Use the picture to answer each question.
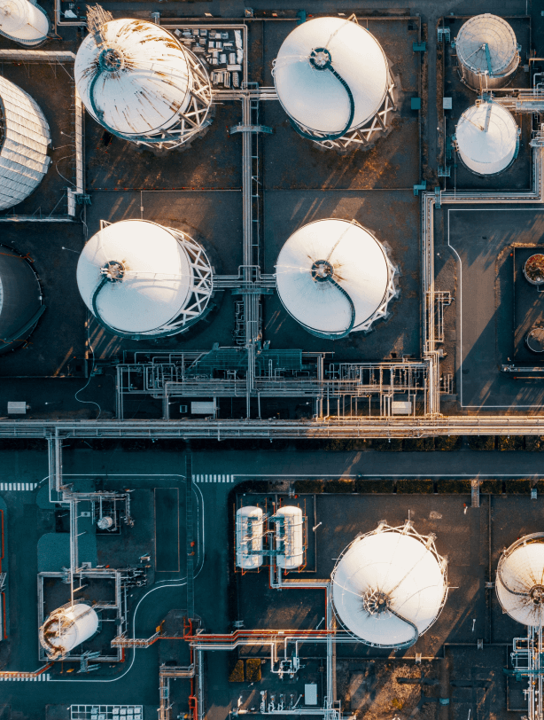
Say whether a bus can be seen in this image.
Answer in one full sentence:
No, the photo shows no bus.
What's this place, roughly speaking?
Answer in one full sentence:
What you see here is an industrial area.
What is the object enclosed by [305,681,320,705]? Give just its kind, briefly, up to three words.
building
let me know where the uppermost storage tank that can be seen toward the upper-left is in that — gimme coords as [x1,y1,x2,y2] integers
[0,0,53,51]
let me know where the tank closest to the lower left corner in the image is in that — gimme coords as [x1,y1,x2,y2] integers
[33,602,101,658]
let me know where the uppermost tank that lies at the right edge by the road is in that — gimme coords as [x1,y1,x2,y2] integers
[455,12,520,92]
